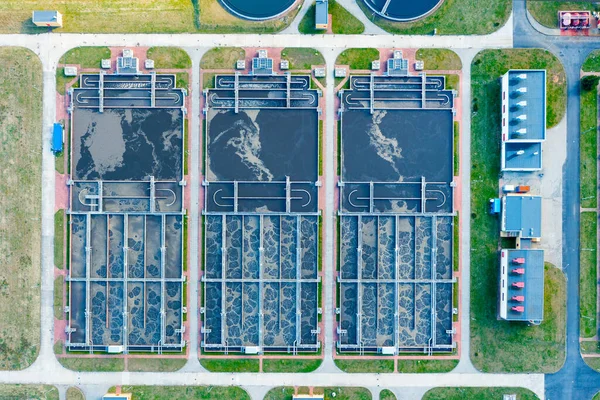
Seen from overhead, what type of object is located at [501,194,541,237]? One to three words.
building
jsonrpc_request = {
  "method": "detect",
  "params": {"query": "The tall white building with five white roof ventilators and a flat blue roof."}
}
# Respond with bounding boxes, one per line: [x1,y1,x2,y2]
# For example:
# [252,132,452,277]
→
[501,69,547,142]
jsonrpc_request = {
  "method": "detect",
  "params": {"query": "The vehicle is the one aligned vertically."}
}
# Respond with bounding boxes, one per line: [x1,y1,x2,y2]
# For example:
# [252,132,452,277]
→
[52,122,66,152]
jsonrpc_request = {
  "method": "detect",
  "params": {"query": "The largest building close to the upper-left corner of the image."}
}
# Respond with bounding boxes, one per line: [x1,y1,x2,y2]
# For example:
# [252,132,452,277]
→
[32,10,63,29]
